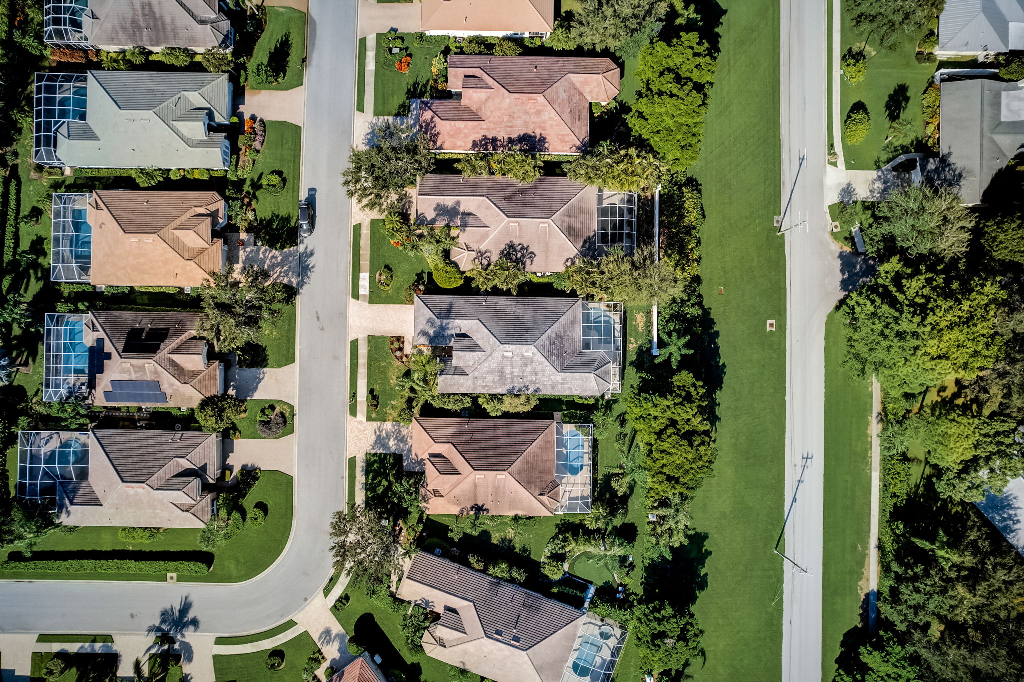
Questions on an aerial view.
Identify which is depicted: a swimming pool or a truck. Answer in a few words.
swimming pool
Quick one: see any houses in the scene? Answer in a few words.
Yes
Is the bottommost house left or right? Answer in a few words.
left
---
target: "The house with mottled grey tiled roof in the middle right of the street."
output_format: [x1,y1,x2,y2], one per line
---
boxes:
[414,296,612,395]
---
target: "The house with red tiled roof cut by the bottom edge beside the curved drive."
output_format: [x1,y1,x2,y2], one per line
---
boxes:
[328,653,387,682]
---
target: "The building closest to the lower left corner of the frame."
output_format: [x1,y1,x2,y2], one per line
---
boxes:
[57,430,221,529]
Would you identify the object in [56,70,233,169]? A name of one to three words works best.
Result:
house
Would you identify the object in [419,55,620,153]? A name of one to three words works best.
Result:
house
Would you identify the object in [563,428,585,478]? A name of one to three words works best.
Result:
swimming pool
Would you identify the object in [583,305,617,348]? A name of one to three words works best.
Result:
swimming pool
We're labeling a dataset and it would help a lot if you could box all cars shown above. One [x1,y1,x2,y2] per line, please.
[297,198,316,237]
